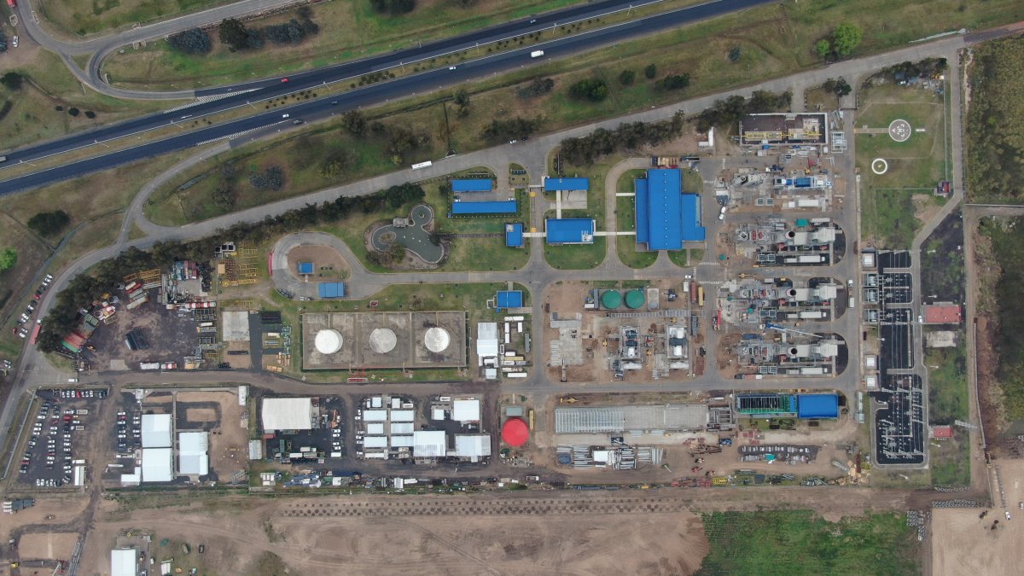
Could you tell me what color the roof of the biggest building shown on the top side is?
blue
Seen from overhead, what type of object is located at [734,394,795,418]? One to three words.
shed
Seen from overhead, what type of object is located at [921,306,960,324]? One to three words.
house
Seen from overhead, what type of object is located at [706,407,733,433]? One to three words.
building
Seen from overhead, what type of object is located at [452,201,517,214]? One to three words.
building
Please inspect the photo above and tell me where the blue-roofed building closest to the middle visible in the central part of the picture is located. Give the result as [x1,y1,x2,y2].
[496,291,522,308]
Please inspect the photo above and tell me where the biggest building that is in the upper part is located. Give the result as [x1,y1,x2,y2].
[634,169,705,251]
